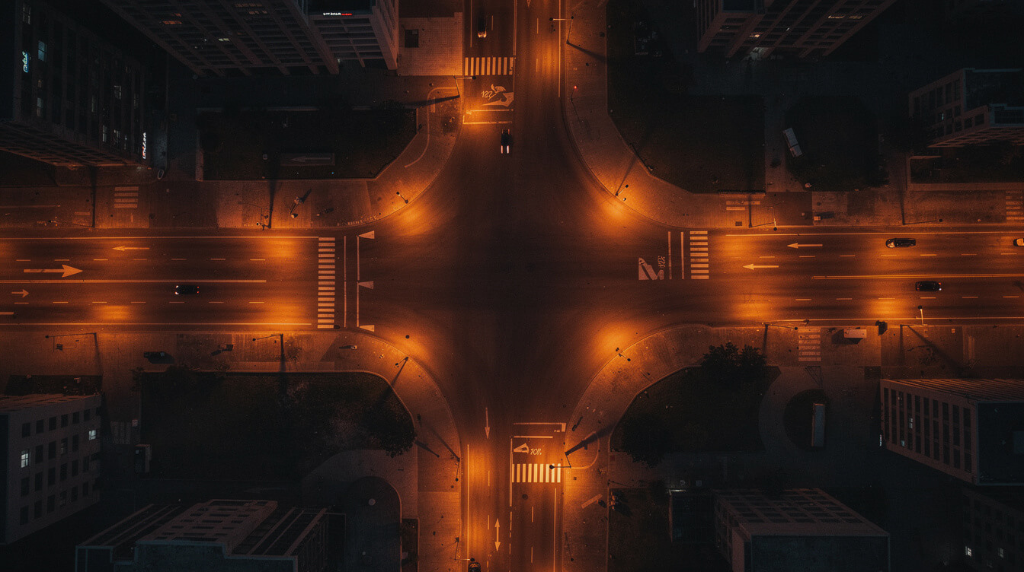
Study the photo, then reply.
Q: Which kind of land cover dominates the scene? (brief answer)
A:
paved ground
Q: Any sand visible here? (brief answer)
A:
No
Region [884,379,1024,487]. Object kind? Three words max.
building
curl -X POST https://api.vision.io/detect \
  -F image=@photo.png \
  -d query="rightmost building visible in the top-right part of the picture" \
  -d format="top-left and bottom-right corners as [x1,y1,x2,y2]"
[909,65,1024,146]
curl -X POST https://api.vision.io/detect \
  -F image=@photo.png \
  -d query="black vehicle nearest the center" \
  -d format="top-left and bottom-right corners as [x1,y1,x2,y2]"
[499,127,511,154]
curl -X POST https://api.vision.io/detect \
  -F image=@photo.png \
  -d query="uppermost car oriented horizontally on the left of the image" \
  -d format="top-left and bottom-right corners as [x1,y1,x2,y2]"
[173,284,198,296]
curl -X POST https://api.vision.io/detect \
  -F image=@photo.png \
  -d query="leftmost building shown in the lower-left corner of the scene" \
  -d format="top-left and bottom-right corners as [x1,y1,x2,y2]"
[0,396,100,550]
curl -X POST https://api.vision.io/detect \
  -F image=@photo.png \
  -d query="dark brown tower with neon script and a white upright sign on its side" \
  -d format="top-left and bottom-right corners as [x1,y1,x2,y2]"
[0,0,144,165]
